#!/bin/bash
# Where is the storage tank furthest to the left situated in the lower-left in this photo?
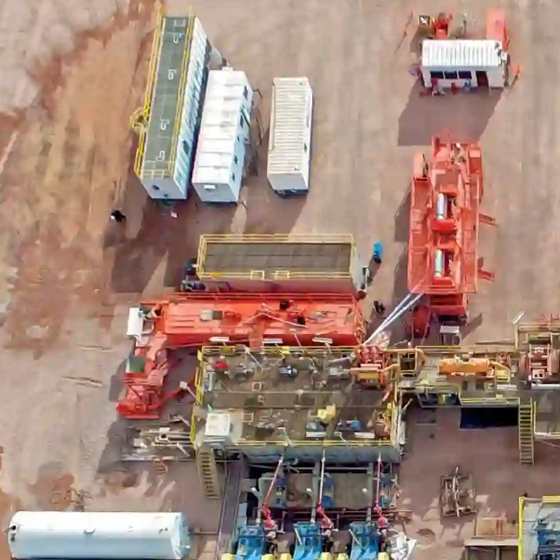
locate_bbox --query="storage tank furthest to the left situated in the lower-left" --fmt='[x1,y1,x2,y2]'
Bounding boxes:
[4,511,222,560]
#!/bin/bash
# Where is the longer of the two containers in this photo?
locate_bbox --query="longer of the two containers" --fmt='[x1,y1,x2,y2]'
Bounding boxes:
[117,4,199,199]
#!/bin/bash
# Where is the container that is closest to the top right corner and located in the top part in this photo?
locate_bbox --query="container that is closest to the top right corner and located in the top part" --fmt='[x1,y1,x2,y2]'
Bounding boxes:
[267,77,314,196]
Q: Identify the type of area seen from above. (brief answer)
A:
industrial area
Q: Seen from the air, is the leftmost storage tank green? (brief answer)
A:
No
